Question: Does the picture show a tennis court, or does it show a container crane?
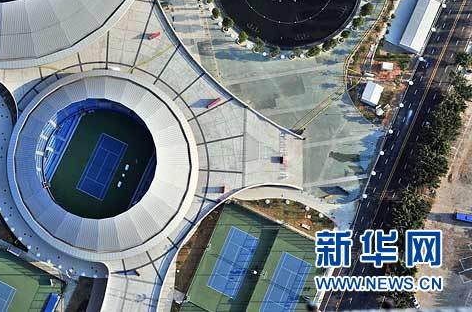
tennis court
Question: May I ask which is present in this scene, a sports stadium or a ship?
sports stadium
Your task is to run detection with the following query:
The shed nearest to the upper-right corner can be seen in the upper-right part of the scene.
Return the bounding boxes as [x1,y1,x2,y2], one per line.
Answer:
[397,0,441,55]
